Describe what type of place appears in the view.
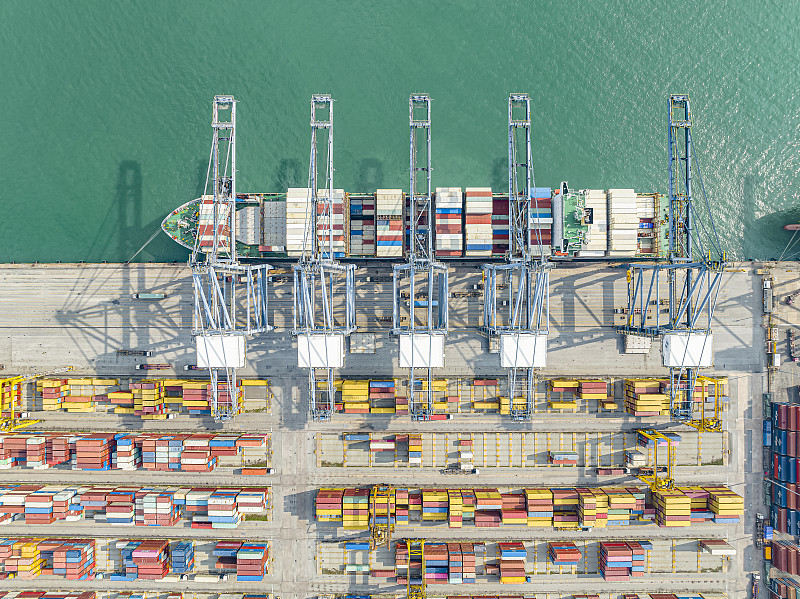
port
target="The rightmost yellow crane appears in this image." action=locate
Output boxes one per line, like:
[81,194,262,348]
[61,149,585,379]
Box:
[676,376,722,436]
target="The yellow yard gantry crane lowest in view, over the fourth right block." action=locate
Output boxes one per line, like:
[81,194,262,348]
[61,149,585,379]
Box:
[402,537,428,599]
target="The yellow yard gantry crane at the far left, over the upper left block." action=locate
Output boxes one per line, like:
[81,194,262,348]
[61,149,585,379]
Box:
[0,376,46,436]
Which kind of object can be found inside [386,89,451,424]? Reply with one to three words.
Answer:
container crane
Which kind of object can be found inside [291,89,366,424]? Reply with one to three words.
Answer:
container crane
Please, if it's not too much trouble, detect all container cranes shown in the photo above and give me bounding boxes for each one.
[604,89,734,424]
[469,89,553,424]
[0,376,46,436]
[676,376,722,436]
[184,89,284,424]
[291,89,366,424]
[386,89,451,424]
[634,430,678,494]
[370,484,395,551]
[402,537,428,599]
